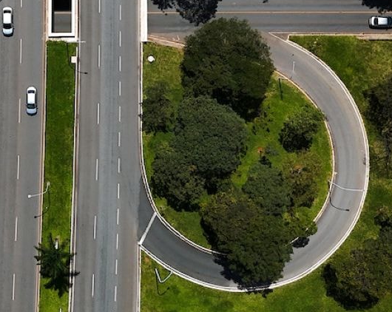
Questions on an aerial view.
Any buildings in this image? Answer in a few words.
No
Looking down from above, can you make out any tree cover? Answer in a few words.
Yes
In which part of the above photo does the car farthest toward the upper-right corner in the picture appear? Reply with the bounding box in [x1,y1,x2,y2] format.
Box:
[369,15,392,29]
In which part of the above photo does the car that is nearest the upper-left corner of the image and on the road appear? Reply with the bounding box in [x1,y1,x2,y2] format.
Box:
[0,7,14,36]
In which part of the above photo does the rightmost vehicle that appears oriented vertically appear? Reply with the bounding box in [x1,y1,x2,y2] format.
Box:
[25,86,38,115]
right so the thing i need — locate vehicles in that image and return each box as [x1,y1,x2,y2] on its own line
[25,86,38,115]
[369,15,392,29]
[0,7,14,36]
